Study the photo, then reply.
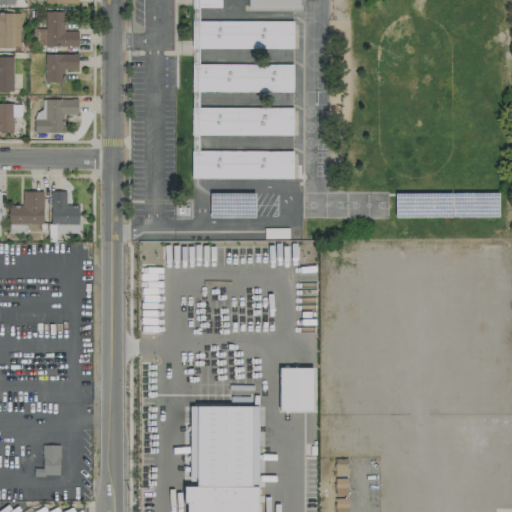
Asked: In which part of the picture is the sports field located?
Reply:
top right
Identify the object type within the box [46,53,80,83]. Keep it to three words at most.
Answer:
house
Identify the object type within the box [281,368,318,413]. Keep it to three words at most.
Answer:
building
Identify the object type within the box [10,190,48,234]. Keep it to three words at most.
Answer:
house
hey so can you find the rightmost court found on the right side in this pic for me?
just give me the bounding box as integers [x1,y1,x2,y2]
[348,193,389,218]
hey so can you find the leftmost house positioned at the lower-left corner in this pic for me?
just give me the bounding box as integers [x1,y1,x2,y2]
[36,446,62,478]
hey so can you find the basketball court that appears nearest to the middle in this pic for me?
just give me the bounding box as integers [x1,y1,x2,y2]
[306,193,348,218]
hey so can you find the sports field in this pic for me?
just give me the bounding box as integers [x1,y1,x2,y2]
[306,0,512,241]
